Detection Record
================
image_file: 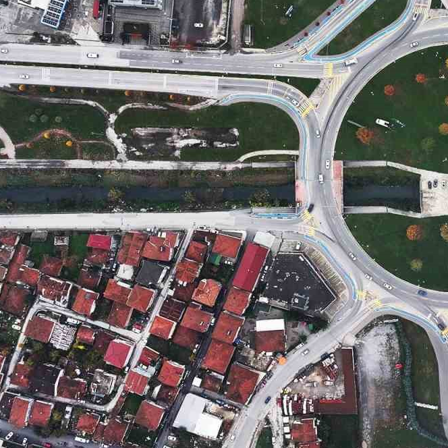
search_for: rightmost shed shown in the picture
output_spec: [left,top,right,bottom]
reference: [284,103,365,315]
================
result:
[317,346,359,413]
